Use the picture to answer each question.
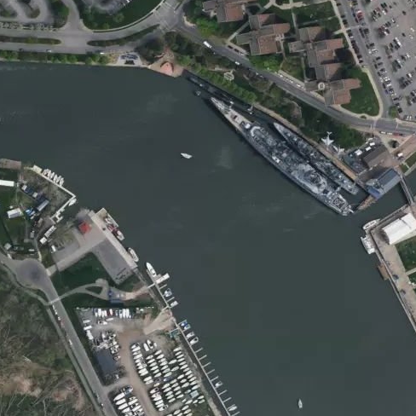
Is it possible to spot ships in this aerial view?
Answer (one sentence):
Yes, a ship is visible in the scene.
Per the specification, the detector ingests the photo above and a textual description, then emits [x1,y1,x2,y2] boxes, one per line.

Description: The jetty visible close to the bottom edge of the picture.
[142,264,237,416]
